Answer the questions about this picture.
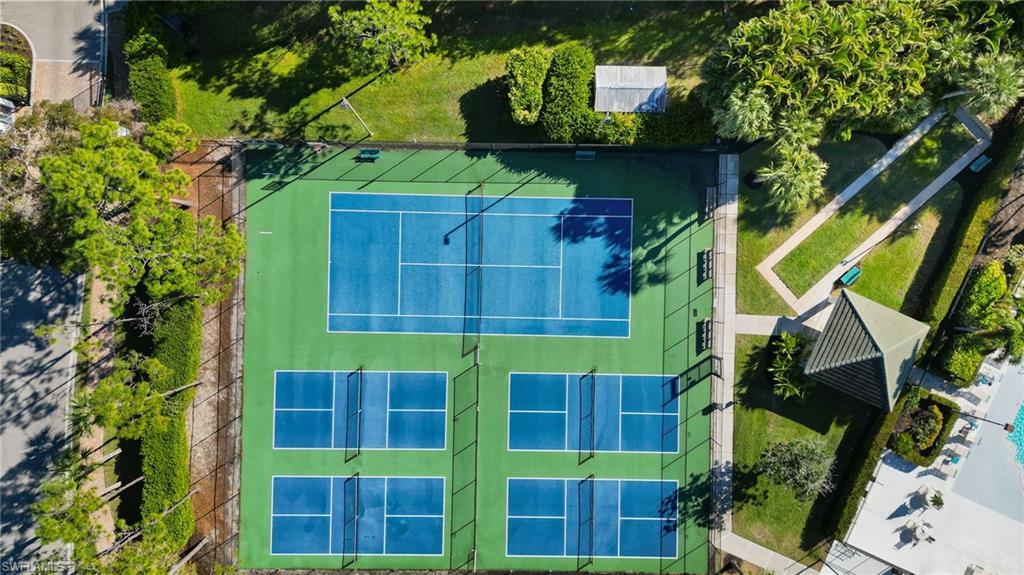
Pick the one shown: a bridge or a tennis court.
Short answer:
tennis court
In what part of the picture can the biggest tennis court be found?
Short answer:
center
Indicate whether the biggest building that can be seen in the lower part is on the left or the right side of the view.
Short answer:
right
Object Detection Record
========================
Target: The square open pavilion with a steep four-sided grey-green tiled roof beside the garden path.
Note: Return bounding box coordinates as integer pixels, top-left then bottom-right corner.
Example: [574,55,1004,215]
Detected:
[797,288,932,412]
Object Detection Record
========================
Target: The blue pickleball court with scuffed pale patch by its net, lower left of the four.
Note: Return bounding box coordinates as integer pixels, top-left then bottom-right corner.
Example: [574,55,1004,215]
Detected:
[270,475,445,557]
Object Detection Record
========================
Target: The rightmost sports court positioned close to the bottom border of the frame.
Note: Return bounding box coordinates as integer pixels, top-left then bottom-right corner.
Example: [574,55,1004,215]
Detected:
[506,478,679,559]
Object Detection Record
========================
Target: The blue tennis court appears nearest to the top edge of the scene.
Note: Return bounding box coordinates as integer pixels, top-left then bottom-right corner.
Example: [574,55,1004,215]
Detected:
[326,192,633,337]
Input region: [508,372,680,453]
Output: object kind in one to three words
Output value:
sports court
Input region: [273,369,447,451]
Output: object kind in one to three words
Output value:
sports court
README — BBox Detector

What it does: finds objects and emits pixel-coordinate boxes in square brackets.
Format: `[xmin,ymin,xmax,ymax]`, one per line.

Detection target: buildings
[596,64,669,115]
[797,288,932,412]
